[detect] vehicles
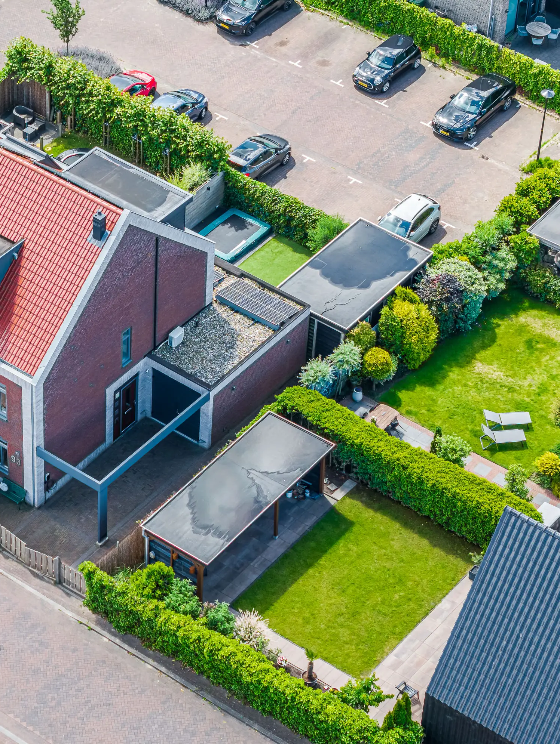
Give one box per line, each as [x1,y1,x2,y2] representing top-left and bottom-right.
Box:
[149,90,208,127]
[432,73,519,146]
[214,0,294,39]
[370,194,443,243]
[227,136,292,191]
[99,68,156,103]
[351,33,423,94]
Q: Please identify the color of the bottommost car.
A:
white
